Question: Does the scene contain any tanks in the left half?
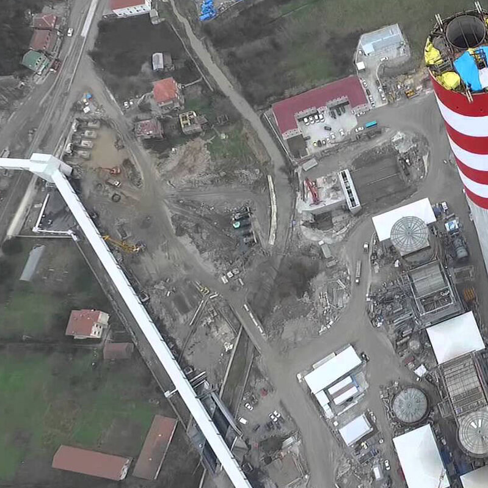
No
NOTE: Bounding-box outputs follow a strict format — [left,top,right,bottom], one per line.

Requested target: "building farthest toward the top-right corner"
[360,25,406,60]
